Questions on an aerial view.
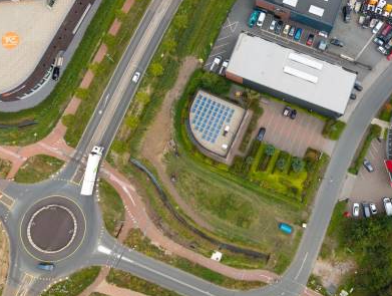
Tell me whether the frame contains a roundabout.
Yes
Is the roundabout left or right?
left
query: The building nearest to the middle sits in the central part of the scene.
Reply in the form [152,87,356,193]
[190,89,246,156]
